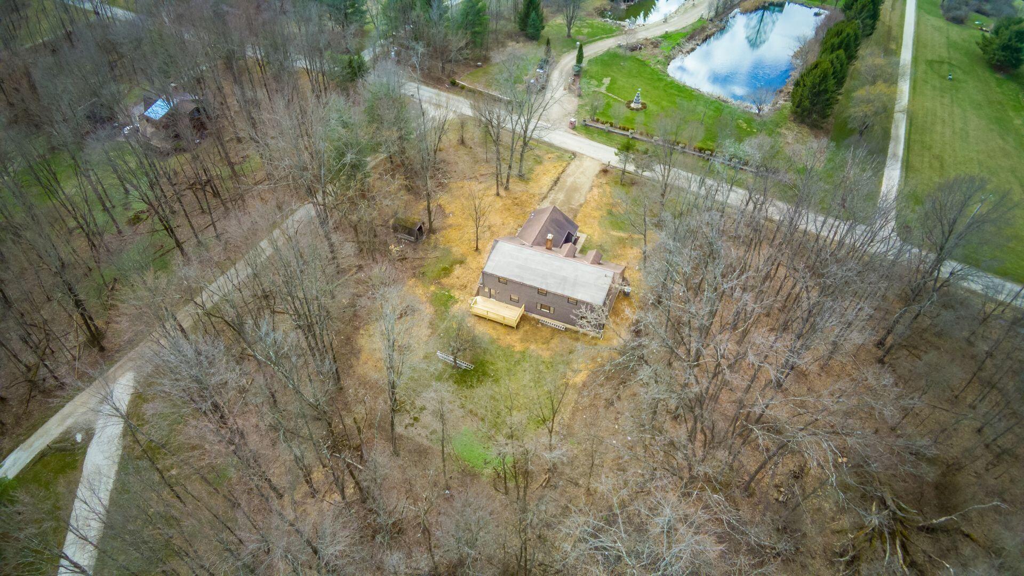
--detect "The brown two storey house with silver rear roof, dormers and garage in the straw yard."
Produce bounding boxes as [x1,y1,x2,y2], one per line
[470,204,630,338]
